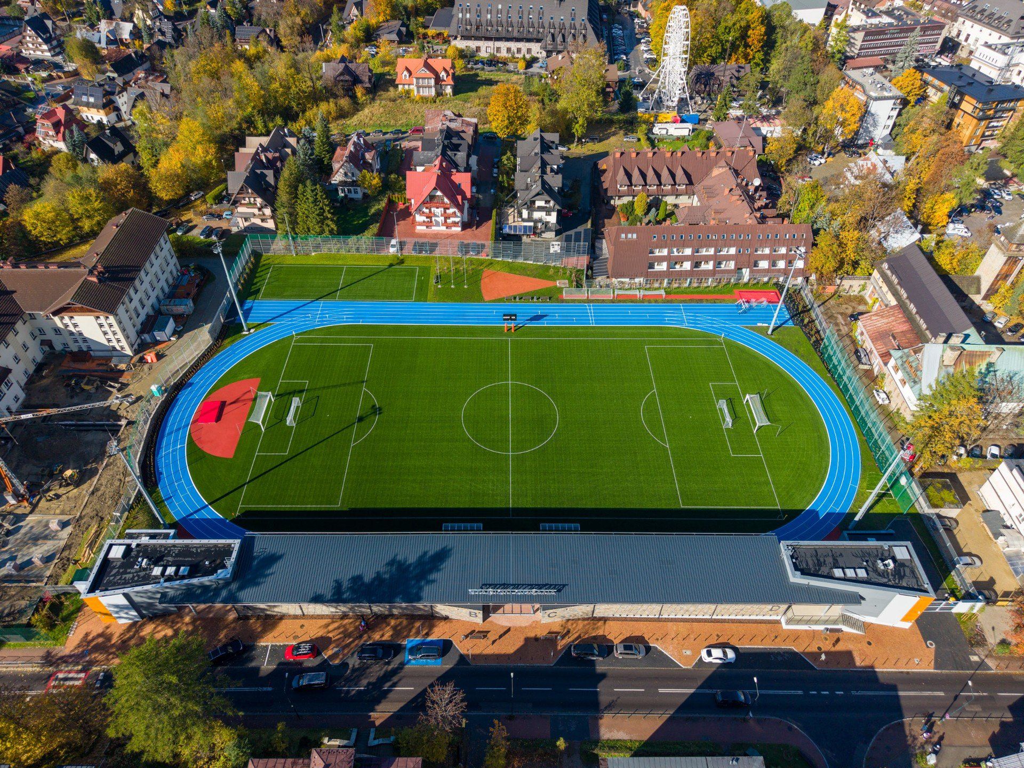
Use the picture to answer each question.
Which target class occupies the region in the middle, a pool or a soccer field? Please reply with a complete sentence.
It is a soccer field that can be seen in the middle.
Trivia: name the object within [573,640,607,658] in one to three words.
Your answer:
car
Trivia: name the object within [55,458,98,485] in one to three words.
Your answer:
work vehicle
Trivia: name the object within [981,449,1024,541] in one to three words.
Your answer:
house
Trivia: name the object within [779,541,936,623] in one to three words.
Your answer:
building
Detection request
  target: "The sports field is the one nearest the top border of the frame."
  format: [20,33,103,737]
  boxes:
[248,265,431,302]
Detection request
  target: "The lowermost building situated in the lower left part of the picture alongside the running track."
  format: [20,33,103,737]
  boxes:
[81,539,245,622]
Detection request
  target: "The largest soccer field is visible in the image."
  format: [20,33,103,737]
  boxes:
[187,324,829,534]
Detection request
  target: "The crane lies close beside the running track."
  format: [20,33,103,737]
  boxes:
[0,394,132,510]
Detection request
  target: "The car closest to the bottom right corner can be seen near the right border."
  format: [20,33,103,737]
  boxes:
[967,586,1003,602]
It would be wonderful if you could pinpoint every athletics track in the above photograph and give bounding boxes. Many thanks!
[157,301,859,547]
